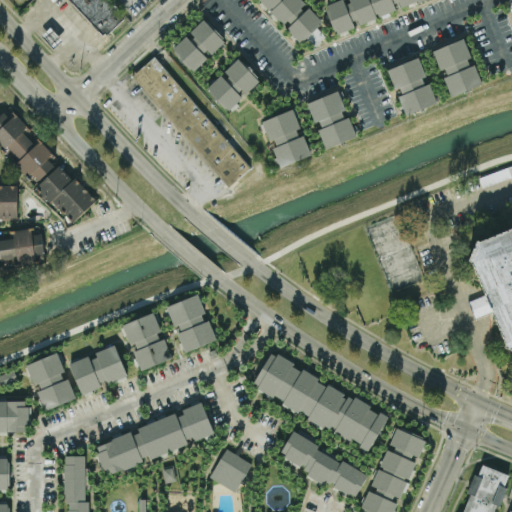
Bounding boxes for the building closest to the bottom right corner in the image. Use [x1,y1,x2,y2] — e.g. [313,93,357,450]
[462,464,508,512]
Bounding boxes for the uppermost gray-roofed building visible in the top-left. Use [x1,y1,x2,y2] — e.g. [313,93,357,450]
[70,0,124,35]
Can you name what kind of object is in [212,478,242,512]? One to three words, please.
swimming pool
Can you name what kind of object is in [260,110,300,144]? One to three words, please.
house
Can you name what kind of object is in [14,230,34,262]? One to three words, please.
house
